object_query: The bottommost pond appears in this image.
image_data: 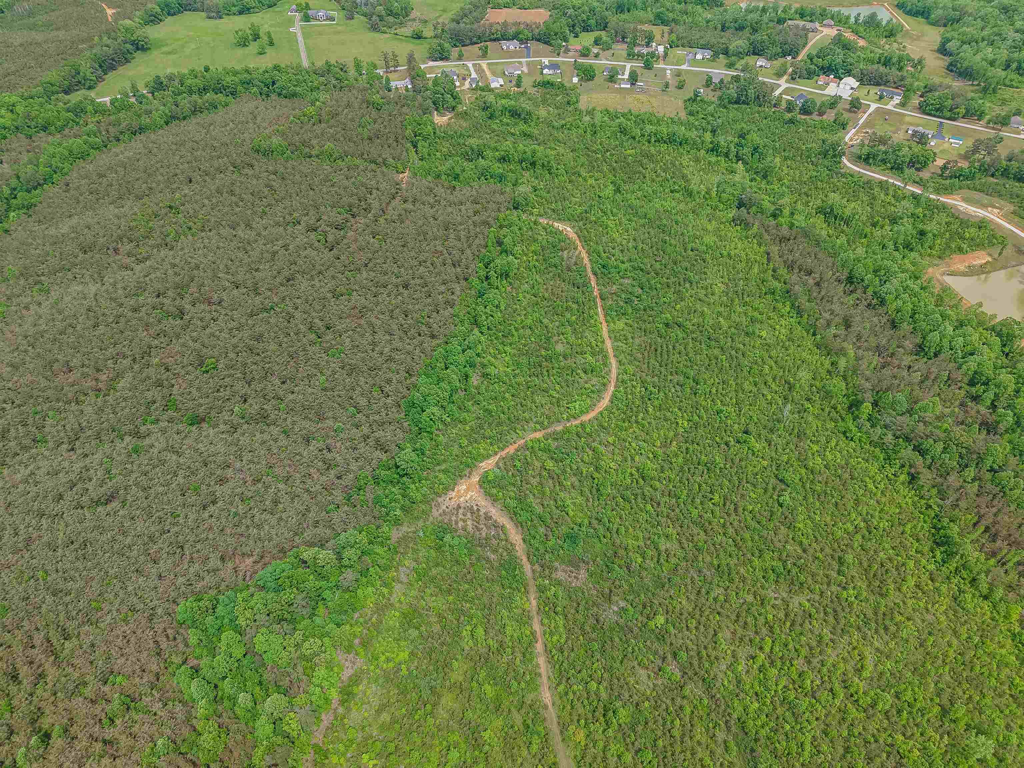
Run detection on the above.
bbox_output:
[944,265,1024,321]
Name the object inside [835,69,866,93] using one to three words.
house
